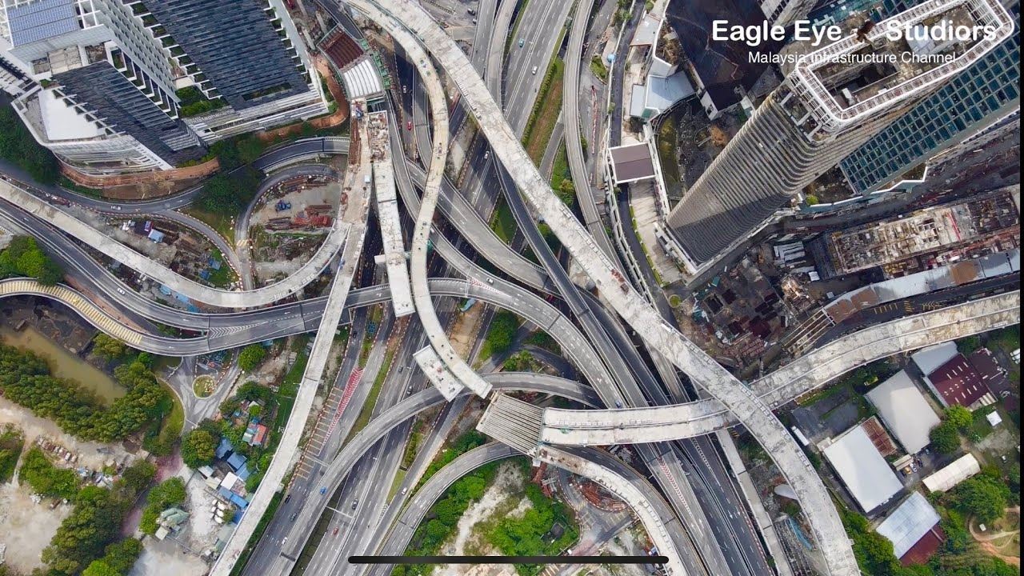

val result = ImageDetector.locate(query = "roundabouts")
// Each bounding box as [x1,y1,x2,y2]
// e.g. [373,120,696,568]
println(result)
[183,365,225,407]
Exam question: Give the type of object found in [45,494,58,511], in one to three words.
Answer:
vehicle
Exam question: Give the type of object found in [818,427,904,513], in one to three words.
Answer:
building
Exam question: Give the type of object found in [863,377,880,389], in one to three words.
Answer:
vehicle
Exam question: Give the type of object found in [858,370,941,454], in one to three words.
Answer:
building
